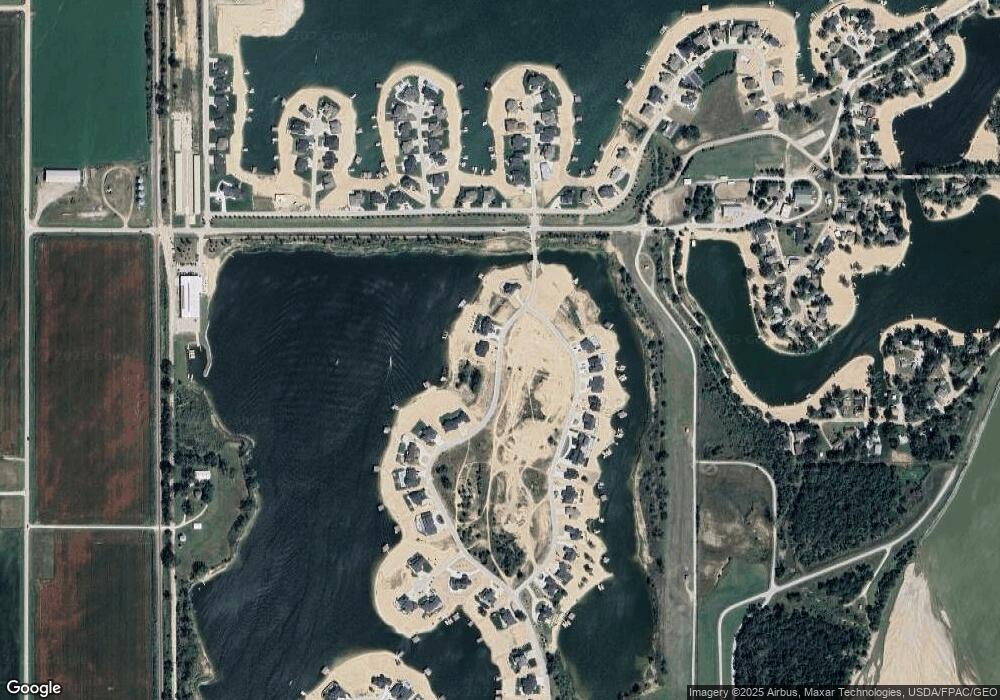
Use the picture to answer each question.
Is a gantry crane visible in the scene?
No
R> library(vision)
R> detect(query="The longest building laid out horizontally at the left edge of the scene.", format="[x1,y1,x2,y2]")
[46,170,80,183]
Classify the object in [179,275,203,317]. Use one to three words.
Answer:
building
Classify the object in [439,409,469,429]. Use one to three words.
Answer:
house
